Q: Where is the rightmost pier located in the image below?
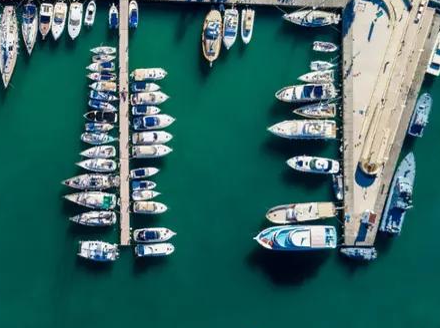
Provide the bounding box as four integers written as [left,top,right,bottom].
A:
[339,0,440,246]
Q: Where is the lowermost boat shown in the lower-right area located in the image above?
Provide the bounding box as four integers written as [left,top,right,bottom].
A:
[339,246,378,260]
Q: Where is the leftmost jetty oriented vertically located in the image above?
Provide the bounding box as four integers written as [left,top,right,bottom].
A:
[118,0,132,245]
